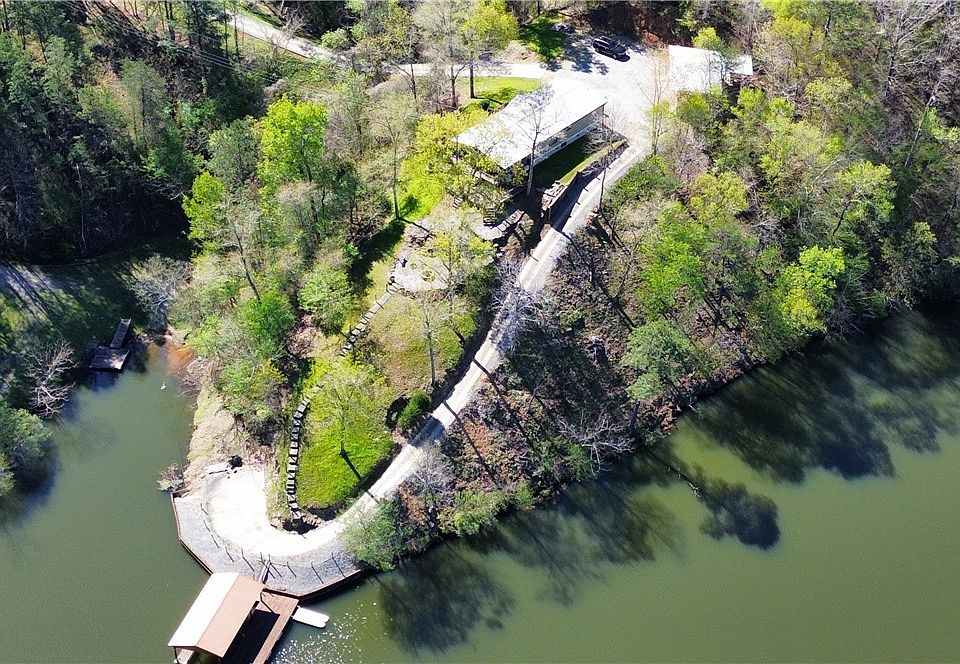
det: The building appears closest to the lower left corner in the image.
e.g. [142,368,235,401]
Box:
[170,572,263,664]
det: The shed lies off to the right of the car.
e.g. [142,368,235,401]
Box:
[666,46,753,110]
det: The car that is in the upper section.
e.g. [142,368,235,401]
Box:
[592,38,629,60]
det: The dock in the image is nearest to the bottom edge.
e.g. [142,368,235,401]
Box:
[252,592,298,664]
